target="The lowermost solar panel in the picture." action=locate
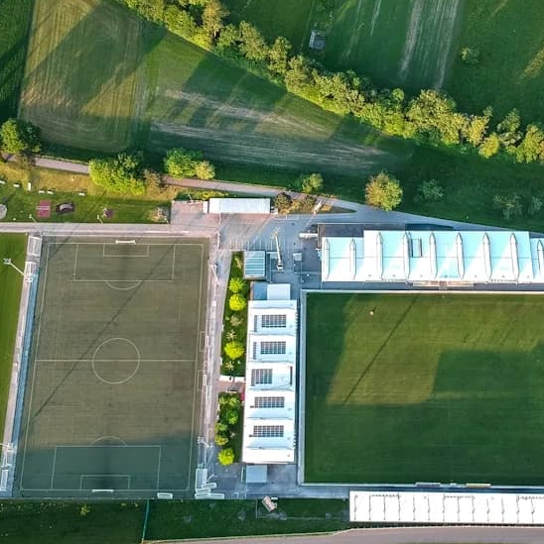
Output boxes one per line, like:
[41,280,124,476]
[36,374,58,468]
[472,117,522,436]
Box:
[253,423,285,436]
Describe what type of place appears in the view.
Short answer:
sports ground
